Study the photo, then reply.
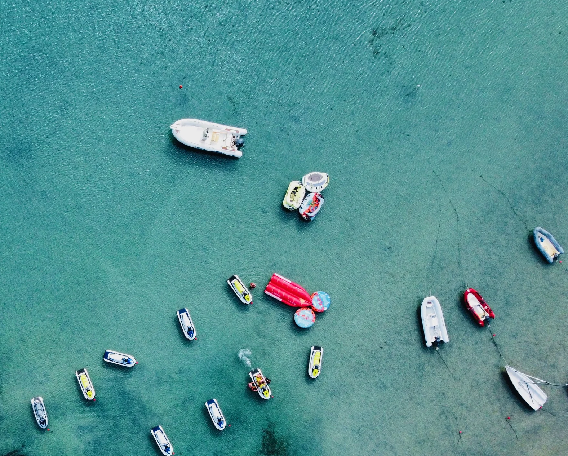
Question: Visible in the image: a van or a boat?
boat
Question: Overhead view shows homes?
No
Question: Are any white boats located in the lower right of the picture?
Yes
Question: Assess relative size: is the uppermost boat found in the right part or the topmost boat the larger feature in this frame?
the topmost boat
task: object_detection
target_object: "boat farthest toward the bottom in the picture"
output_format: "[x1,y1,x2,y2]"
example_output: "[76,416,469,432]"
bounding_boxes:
[151,424,172,456]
